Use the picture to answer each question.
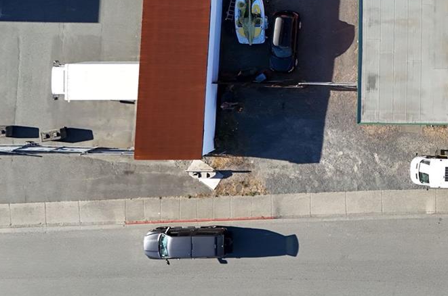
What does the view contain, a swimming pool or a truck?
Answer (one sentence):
The one in the frame is a truck.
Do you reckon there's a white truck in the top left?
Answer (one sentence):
Yes, the scene does show a white truck in the top left.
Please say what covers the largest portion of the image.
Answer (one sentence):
The bulk of the photo consists of paved ground.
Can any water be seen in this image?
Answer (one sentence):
No, water can't be seen anywhere here.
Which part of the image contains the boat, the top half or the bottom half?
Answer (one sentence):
The boat is in the top half of the image.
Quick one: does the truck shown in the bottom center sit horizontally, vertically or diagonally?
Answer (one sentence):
In this picture, the truck shown in the bottom center lies horizontally.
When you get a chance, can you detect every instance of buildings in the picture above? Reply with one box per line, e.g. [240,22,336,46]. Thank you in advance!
[129,0,225,161]
[358,0,448,126]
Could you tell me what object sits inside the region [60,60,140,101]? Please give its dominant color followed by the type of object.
white truck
